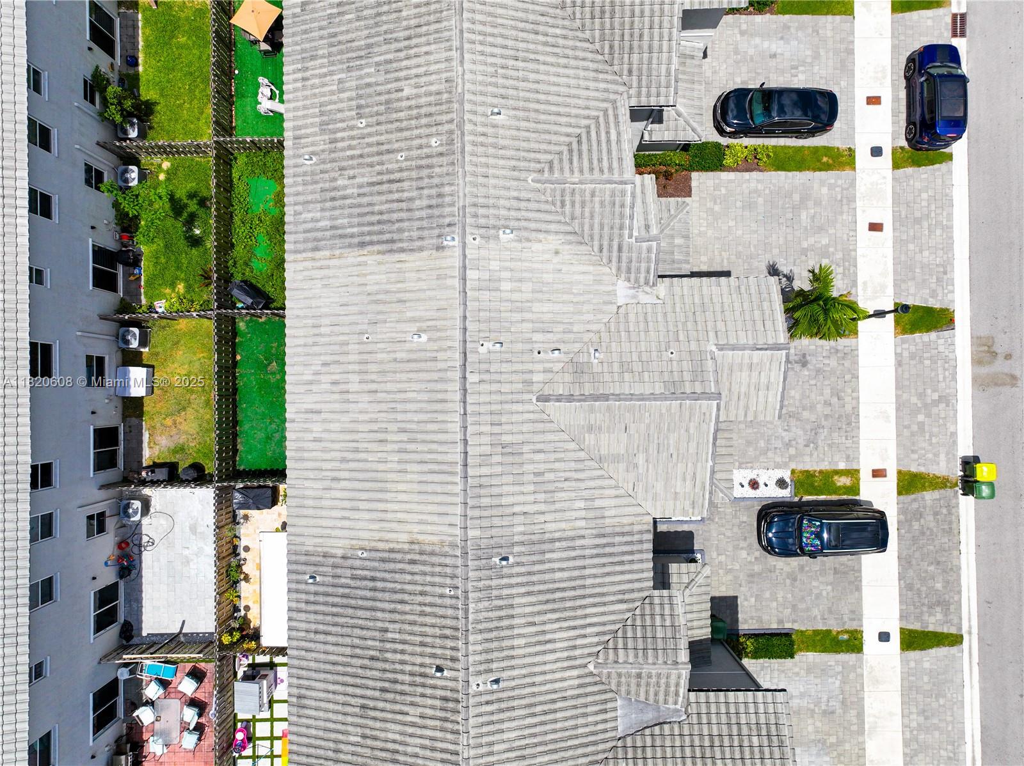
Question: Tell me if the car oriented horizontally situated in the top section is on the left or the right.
right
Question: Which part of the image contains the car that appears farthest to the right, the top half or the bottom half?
top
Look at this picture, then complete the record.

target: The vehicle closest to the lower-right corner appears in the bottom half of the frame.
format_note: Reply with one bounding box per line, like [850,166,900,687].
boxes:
[757,500,888,557]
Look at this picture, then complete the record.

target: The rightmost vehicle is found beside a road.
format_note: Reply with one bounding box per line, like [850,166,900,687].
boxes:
[903,43,969,151]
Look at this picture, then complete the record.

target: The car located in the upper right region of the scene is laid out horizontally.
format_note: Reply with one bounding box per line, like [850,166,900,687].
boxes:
[713,88,837,145]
